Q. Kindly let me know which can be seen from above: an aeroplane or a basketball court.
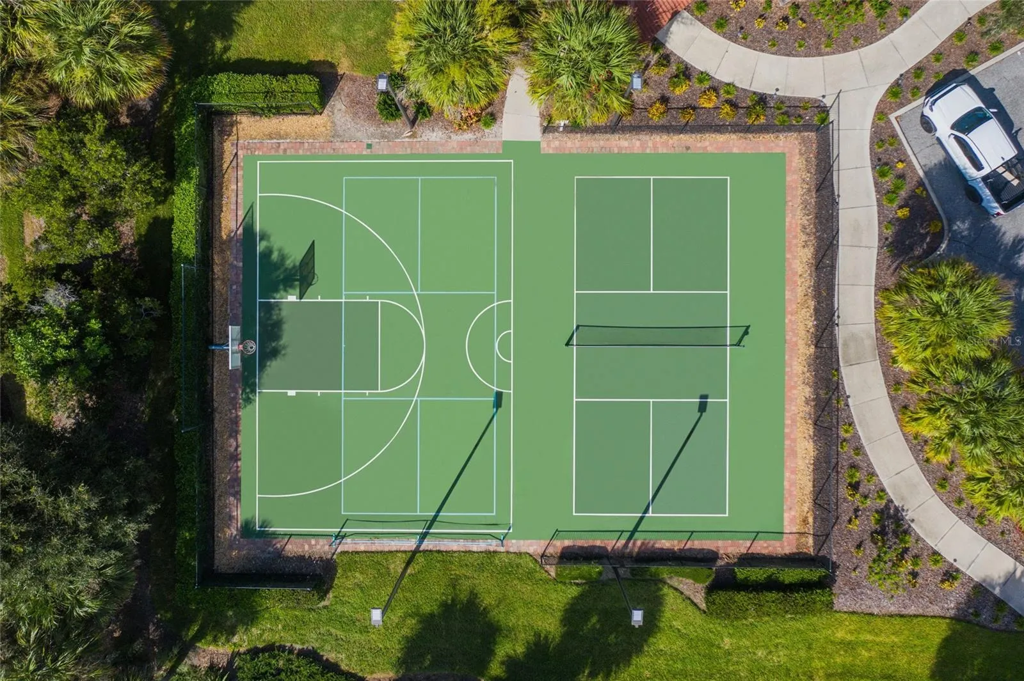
basketball court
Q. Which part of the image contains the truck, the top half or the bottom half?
top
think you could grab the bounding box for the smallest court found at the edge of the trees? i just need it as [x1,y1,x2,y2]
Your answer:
[341,177,497,515]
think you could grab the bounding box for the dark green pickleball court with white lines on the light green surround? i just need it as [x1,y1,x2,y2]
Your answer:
[540,154,786,539]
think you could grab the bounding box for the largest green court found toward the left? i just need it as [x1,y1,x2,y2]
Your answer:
[241,141,542,539]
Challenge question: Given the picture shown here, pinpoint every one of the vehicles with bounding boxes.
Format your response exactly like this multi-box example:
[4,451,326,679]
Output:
[918,75,1024,221]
